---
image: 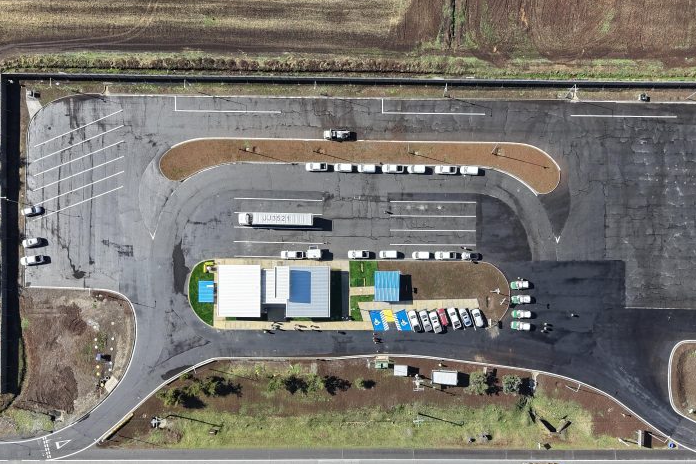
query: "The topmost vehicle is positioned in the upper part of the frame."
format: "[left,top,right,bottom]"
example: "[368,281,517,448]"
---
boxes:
[324,128,350,141]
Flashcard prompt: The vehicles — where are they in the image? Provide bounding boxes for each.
[23,239,42,247]
[420,311,432,331]
[411,251,431,260]
[407,164,426,174]
[459,166,479,175]
[357,163,377,173]
[435,251,457,261]
[460,308,471,327]
[509,281,530,289]
[430,312,441,332]
[324,128,350,141]
[511,310,532,318]
[435,165,457,175]
[510,321,531,330]
[347,250,370,260]
[510,295,531,304]
[379,250,398,260]
[409,311,420,331]
[449,307,461,329]
[240,213,313,226]
[462,252,481,261]
[282,250,304,260]
[334,163,354,172]
[438,307,449,327]
[305,163,328,172]
[21,256,44,265]
[382,164,404,173]
[472,308,484,328]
